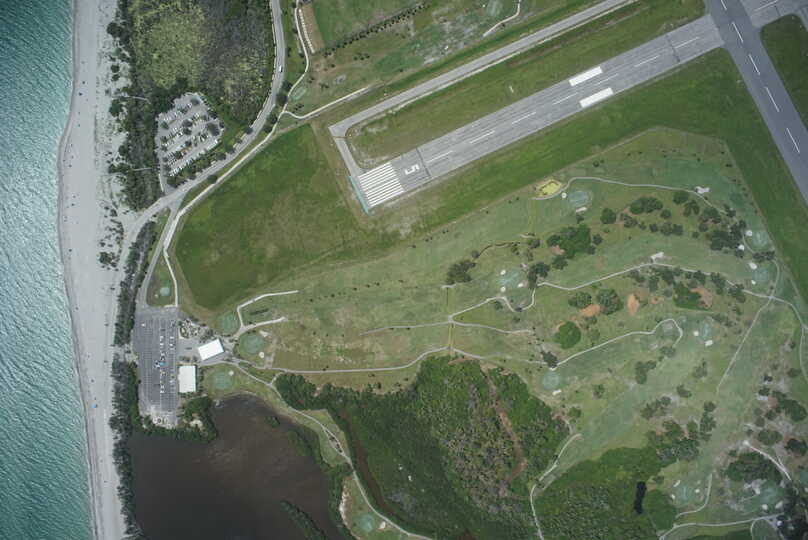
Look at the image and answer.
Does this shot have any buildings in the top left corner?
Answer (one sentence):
No, I can find no building in the top left corner.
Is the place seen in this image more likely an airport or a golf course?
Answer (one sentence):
This looks like a golf course.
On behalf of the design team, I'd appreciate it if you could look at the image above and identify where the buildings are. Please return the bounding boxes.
[178,366,196,392]
[198,339,223,360]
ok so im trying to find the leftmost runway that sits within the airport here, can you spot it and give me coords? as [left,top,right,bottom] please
[347,15,724,214]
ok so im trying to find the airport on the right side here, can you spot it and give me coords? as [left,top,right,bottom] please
[329,0,808,214]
